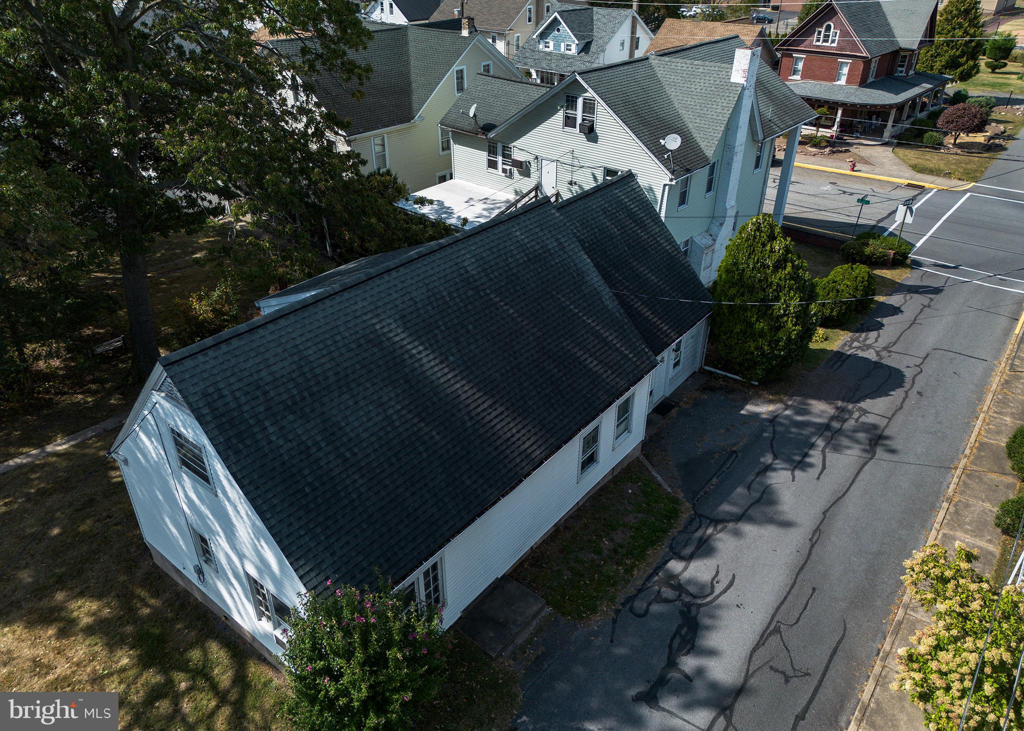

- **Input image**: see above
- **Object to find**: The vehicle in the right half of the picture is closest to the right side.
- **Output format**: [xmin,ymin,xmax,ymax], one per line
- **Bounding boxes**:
[751,12,776,25]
